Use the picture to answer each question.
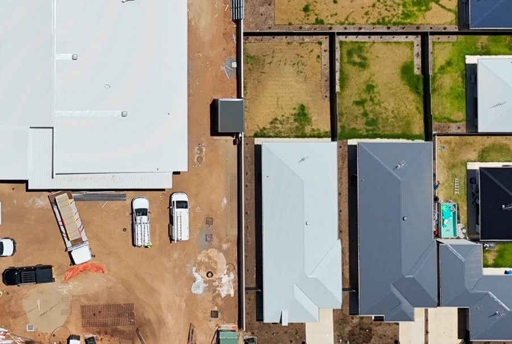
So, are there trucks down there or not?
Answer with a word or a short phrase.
Yes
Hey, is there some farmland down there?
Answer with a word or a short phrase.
No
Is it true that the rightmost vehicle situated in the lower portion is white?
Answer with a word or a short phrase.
Yes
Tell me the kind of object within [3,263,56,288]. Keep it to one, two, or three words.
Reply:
truck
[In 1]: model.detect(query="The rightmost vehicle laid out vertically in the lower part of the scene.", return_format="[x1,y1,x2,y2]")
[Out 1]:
[169,192,192,246]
